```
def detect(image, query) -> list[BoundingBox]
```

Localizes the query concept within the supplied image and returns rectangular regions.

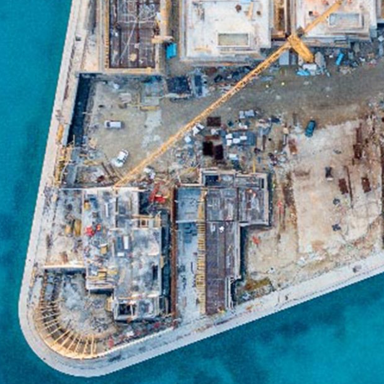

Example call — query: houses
[179,0,277,63]
[289,0,382,47]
